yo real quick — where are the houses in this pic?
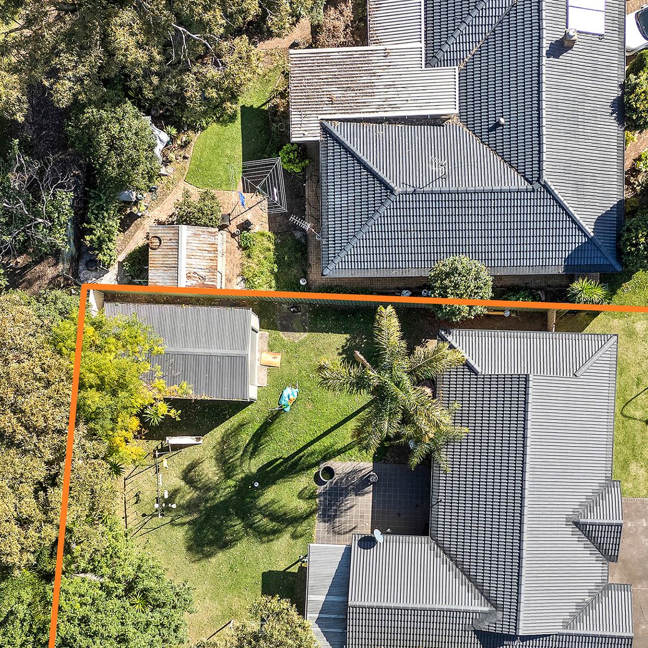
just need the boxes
[289,0,626,279]
[304,329,633,648]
